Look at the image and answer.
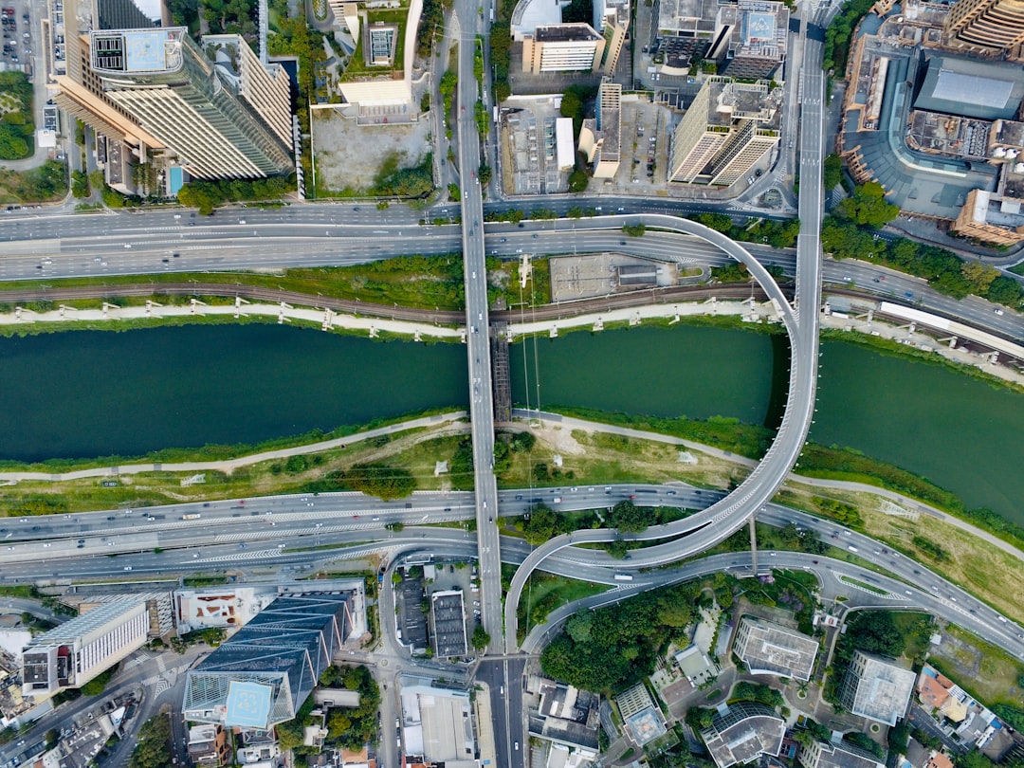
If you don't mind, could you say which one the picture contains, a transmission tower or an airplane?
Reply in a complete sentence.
Of the two, only a transmission tower appears.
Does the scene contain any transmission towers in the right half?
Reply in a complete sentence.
Yes, a transmission tower appears in the right half.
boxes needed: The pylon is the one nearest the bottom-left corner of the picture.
[178,471,207,492]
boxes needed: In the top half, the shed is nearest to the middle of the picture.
[610,265,663,287]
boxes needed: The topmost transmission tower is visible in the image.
[517,264,531,282]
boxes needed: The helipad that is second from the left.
[226,680,272,727]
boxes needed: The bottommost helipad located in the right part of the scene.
[628,708,662,743]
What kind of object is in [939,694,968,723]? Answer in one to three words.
house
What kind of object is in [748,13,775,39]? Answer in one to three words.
helipad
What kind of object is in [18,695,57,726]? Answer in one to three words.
shed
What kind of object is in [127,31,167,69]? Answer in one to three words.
helipad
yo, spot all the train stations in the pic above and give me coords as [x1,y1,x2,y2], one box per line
[872,304,1024,364]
